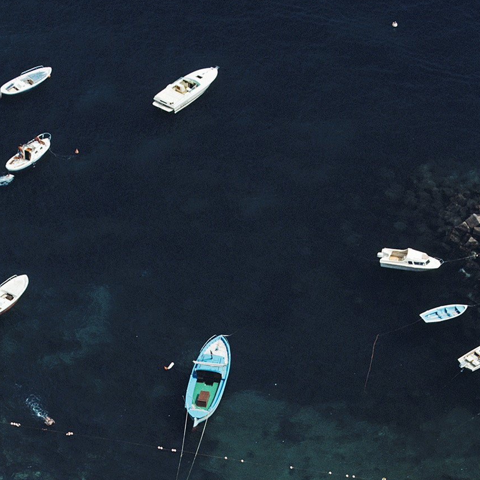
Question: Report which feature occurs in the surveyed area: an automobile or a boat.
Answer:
boat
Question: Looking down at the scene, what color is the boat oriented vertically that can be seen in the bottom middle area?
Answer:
blue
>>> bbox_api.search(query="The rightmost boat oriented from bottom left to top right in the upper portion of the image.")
[149,67,221,123]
